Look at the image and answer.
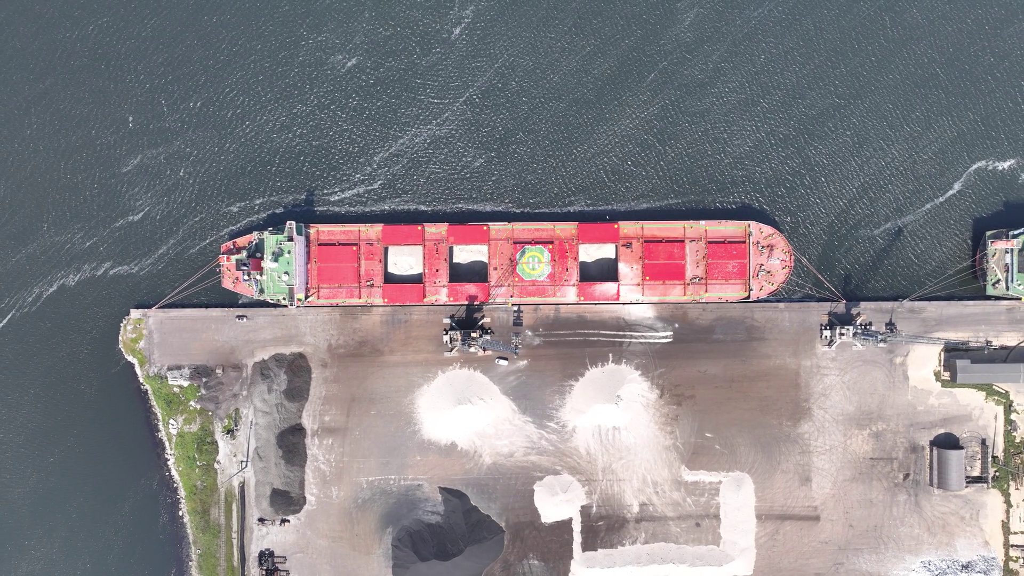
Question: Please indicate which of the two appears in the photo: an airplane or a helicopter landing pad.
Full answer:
Visible in the photo is a helicopter landing pad.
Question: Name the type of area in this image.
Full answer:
The area seen from above is a port.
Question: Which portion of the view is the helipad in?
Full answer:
The helipad sits in the center section of the image.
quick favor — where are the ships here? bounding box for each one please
[213,219,795,310]
[975,223,1024,302]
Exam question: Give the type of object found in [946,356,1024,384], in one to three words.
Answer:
shed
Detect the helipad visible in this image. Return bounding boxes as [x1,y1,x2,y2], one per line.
[497,227,569,298]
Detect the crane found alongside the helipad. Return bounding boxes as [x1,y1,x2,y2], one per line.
[442,317,521,357]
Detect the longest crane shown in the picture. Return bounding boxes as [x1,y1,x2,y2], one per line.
[820,314,998,351]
